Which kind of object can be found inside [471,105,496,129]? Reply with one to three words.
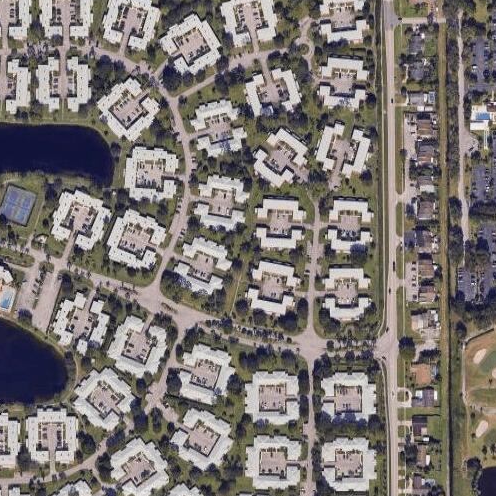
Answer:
swimming pool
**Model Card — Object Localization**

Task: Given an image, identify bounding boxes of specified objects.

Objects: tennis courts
[2,188,21,217]
[14,192,33,222]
